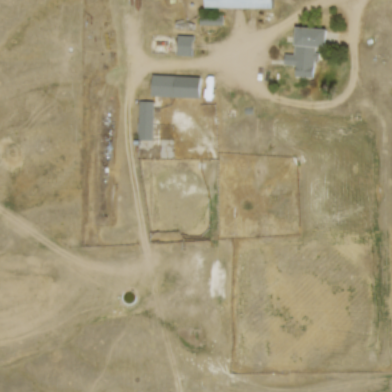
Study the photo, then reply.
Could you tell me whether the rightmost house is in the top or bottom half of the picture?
top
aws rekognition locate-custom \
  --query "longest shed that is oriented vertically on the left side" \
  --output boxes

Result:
[139,100,156,140]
